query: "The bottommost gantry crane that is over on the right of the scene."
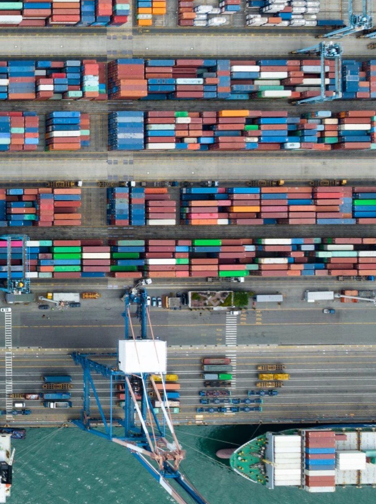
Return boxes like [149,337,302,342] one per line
[286,44,344,110]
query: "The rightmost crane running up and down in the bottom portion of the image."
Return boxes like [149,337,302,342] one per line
[73,302,202,504]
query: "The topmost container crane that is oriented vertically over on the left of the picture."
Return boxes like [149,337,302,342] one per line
[0,233,28,294]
